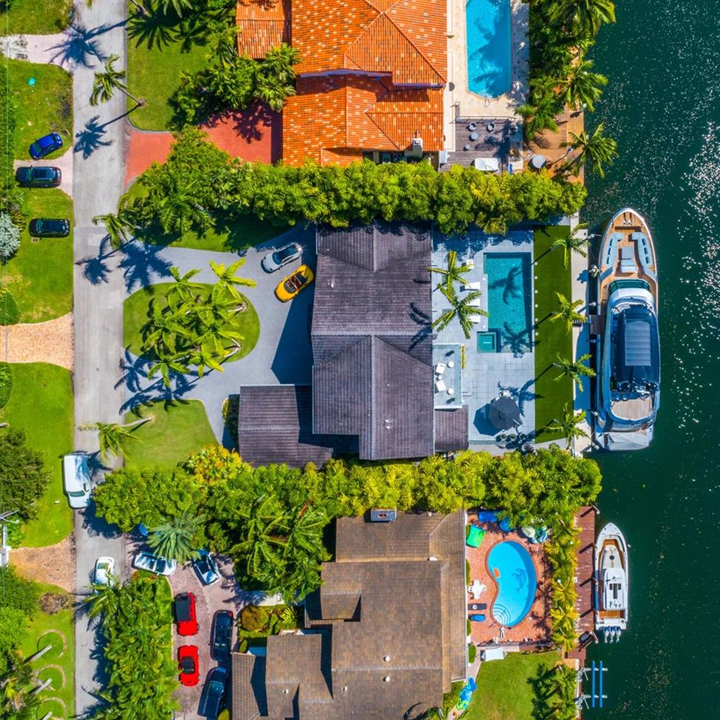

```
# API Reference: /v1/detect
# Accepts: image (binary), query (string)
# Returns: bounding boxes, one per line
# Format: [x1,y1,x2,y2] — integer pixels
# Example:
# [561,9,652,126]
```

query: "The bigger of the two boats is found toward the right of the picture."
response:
[595,208,661,450]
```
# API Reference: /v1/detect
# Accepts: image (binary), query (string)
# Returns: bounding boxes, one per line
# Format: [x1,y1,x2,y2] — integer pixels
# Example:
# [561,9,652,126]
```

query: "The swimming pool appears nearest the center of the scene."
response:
[477,332,497,353]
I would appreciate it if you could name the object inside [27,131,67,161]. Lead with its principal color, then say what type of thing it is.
blue car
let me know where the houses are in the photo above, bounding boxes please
[232,501,466,720]
[239,218,468,467]
[237,0,453,174]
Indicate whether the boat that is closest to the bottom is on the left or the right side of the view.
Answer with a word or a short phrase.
right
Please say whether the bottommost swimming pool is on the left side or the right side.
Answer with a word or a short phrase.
right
